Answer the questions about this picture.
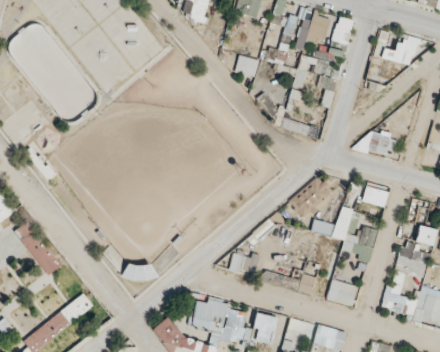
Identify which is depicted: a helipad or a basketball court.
basketball court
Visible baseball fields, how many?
one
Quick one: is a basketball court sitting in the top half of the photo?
Yes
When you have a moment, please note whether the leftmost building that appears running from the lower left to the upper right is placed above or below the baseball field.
below it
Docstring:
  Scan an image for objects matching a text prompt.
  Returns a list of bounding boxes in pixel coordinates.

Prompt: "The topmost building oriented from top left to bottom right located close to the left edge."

[16,224,58,274]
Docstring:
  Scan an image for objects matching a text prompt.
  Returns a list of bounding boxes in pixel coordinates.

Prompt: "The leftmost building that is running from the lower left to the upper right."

[24,294,92,352]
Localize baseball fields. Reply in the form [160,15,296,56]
[53,101,244,258]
